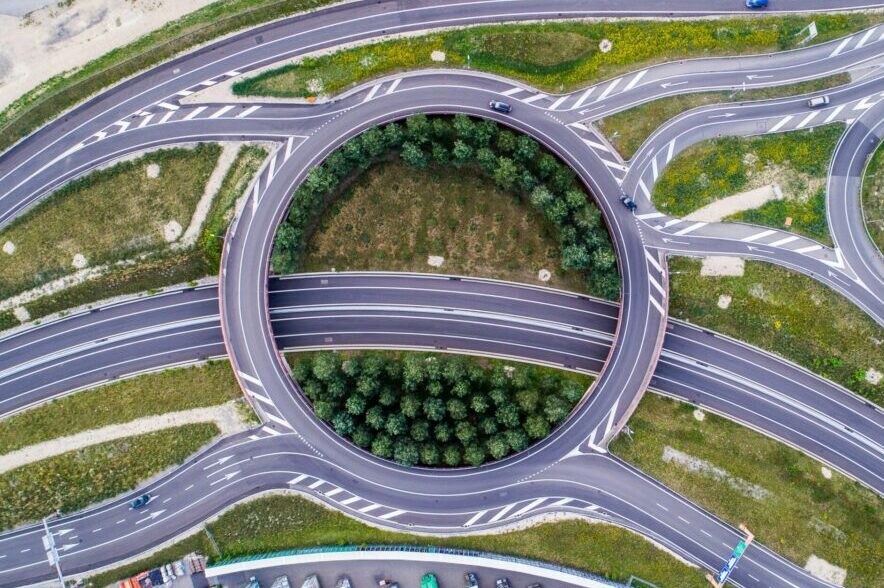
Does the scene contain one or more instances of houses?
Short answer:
No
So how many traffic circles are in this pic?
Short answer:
one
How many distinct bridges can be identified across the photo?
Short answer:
2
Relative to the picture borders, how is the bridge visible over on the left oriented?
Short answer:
vertically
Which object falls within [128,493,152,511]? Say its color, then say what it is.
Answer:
blue car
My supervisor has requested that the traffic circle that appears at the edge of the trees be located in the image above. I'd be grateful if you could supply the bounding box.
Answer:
[224,68,666,495]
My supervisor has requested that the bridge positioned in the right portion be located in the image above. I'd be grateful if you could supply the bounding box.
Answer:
[586,253,672,444]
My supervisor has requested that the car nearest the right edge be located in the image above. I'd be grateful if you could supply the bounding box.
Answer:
[806,95,830,108]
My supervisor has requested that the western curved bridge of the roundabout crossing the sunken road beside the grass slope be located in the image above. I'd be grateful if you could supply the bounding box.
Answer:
[218,218,287,415]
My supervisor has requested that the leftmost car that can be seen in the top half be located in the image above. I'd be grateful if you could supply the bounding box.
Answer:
[489,99,512,113]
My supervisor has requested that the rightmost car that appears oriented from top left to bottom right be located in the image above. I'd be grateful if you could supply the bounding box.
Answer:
[617,193,639,212]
